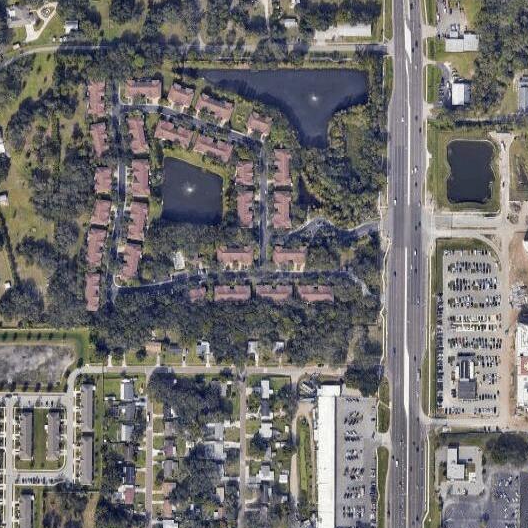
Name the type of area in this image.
residential area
